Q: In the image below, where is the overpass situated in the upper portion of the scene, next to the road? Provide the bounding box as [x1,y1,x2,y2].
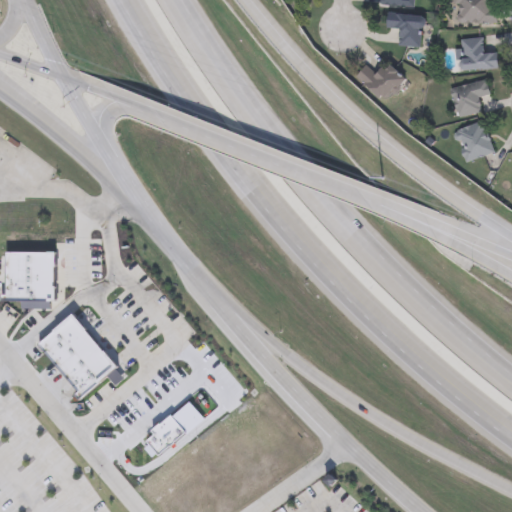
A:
[78,70,512,282]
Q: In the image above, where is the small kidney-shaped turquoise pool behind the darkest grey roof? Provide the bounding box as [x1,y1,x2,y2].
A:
[406,46,428,65]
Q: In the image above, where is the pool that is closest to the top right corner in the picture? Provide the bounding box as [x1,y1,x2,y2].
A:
[445,48,460,72]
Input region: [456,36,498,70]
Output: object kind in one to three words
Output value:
house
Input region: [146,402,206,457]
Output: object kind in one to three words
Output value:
building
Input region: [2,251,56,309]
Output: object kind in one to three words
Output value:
building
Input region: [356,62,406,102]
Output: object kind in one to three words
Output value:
house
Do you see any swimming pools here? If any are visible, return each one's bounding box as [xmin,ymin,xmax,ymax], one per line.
[406,46,428,65]
[445,48,460,72]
